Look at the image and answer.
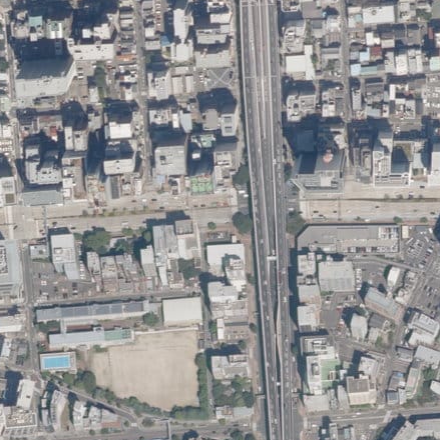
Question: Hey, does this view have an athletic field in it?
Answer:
Yes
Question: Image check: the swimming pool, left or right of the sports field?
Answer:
to the left of it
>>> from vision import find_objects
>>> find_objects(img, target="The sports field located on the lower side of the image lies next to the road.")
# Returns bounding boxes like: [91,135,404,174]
[89,329,199,409]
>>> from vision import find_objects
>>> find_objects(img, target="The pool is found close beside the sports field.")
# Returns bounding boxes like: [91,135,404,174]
[41,352,77,372]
